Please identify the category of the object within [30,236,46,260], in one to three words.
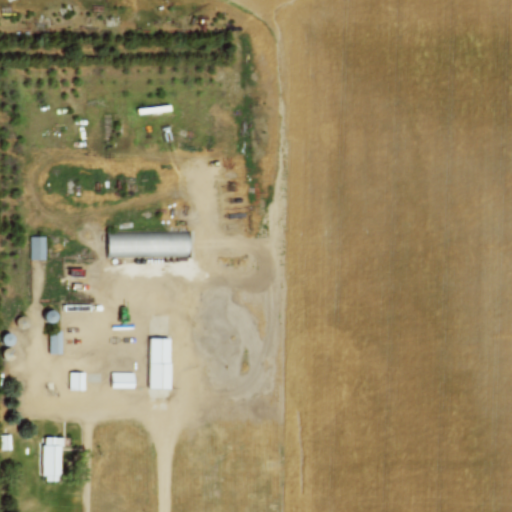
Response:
shed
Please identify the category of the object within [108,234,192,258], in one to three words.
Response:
barn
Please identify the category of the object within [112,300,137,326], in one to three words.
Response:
work vehicle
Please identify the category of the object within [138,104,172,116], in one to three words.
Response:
house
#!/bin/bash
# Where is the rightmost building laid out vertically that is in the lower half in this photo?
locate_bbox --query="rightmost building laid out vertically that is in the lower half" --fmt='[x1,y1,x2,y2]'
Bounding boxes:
[149,338,172,389]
